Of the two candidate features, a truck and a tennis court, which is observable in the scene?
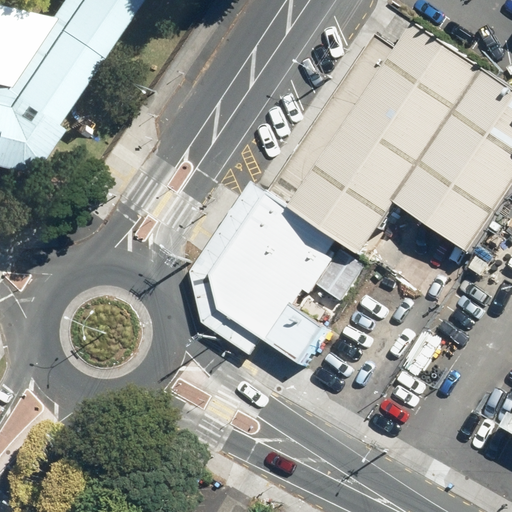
truck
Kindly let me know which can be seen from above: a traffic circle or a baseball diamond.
traffic circle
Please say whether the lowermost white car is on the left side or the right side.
right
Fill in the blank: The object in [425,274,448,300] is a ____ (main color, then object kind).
white car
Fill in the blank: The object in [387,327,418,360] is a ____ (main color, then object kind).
white car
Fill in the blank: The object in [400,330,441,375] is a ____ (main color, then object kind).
white truck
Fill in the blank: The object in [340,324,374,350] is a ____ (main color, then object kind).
white vehicle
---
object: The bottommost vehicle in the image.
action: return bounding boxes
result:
[264,454,298,474]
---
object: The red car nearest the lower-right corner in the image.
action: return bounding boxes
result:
[377,398,412,424]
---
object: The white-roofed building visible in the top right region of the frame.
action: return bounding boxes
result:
[266,22,512,256]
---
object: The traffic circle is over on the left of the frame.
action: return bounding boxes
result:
[6,232,208,418]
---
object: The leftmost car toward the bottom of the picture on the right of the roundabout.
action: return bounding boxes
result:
[239,380,270,406]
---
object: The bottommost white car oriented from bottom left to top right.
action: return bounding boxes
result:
[470,418,495,449]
